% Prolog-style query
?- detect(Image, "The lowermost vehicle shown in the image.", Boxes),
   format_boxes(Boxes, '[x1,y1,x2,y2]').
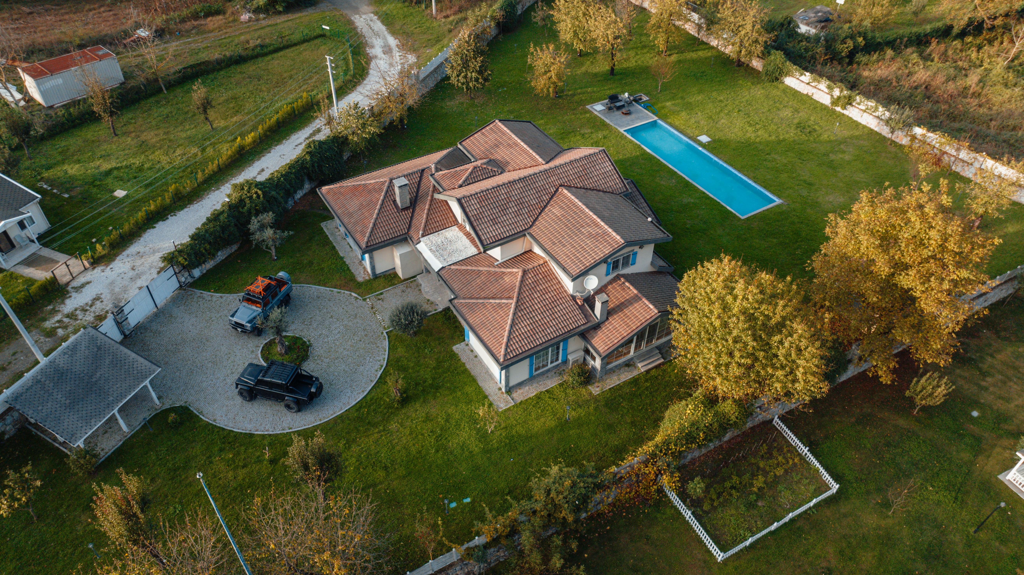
[228,355,323,412]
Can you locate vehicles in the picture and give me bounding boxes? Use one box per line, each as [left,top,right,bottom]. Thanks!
[222,271,297,338]
[228,355,323,412]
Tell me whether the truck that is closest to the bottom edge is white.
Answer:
No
